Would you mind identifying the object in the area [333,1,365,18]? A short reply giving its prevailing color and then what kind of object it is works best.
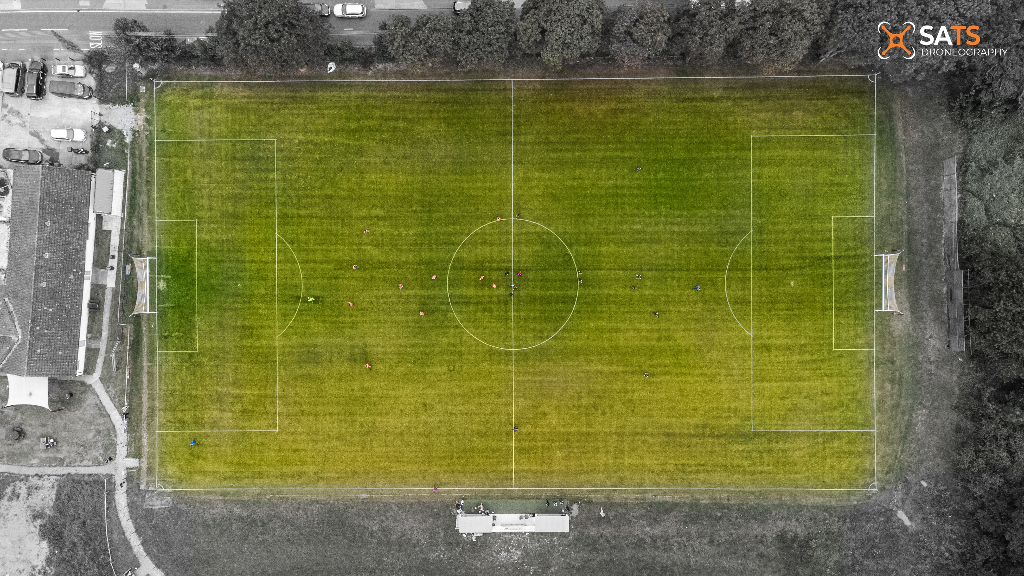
white car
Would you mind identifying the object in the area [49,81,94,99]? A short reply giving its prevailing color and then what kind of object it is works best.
gray vehicle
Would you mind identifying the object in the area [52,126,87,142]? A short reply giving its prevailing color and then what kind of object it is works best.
white car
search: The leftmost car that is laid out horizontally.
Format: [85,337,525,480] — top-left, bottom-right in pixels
[4,147,43,164]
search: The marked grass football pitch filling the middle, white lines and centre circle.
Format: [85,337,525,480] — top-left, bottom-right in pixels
[154,74,877,499]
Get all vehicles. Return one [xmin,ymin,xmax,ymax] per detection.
[333,1,365,18]
[49,81,94,99]
[52,61,87,77]
[25,60,46,99]
[1,60,25,97]
[52,126,87,142]
[67,148,87,153]
[453,2,471,17]
[4,147,43,164]
[303,1,331,18]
